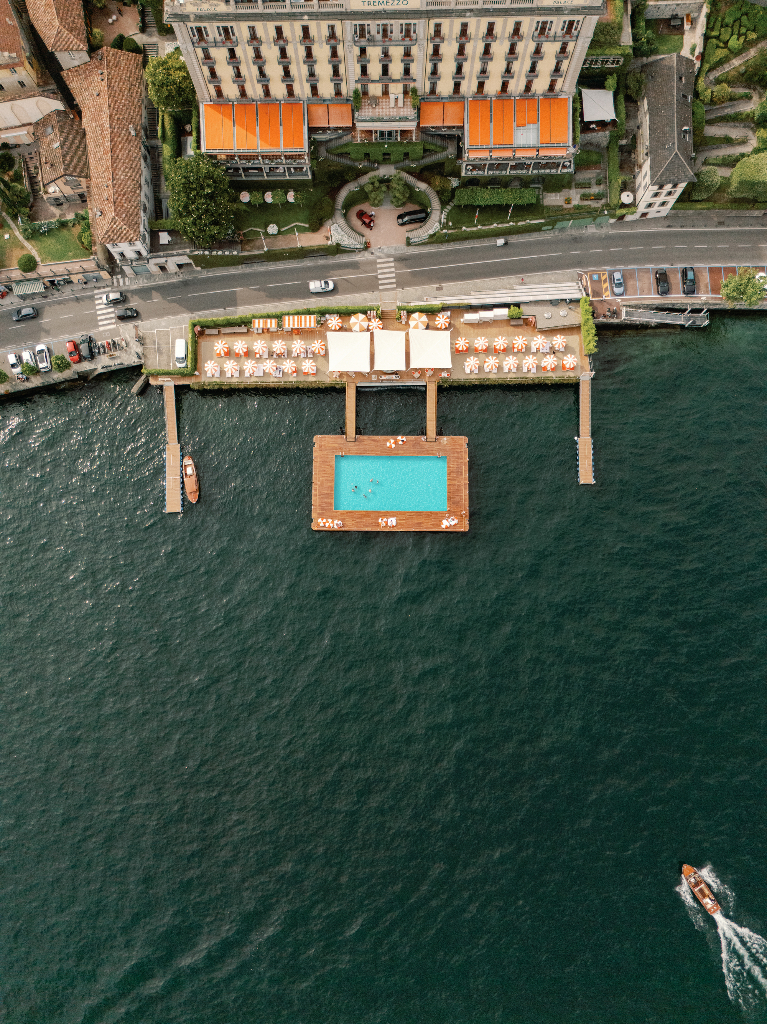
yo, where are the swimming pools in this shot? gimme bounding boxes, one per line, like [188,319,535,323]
[312,426,469,532]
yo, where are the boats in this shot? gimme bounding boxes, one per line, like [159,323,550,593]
[183,457,197,502]
[681,862,725,920]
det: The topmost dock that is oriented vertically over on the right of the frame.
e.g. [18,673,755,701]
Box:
[579,378,593,439]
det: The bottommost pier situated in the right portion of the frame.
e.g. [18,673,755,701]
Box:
[575,436,597,486]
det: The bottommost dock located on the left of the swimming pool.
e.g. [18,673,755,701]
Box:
[161,444,184,513]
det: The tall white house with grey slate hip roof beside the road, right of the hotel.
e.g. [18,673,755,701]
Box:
[630,53,698,214]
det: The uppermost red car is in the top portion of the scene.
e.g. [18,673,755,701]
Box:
[357,211,374,228]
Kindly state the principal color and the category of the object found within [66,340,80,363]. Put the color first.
red car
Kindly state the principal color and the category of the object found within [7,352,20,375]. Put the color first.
white vehicle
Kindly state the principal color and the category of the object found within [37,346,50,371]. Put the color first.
white vehicle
